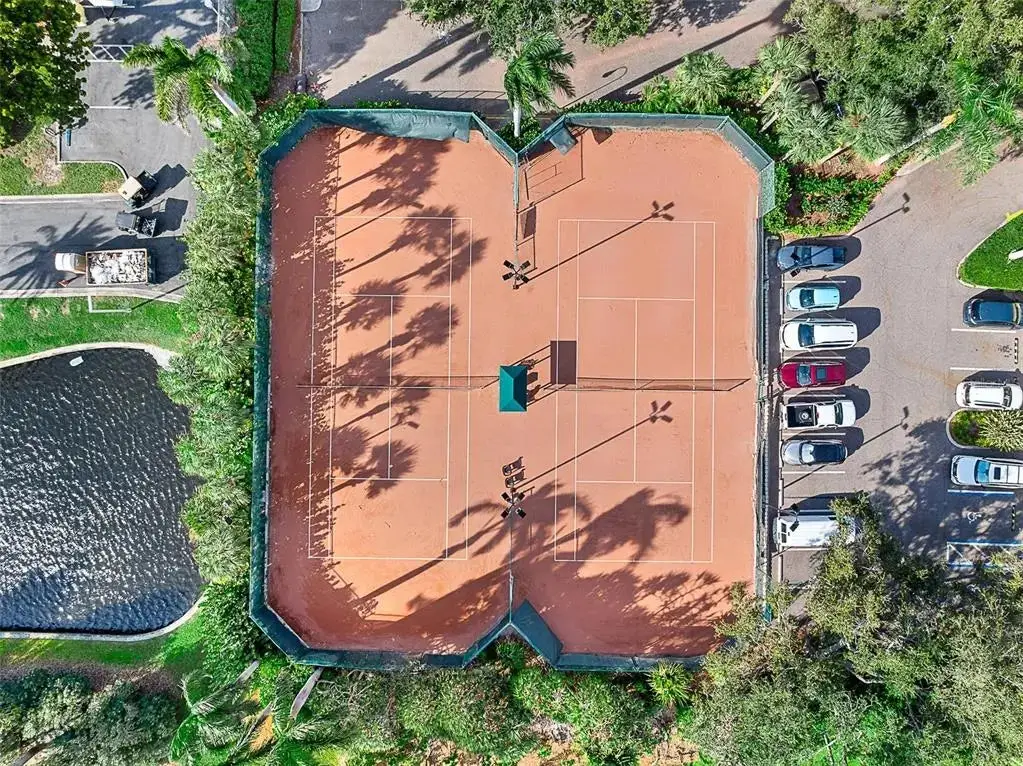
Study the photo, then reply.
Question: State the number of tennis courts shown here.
2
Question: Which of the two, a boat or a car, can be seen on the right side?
car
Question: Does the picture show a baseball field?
No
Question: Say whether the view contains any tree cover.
Yes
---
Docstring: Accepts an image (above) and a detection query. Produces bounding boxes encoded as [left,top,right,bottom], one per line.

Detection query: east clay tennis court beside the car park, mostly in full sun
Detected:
[512,132,759,649]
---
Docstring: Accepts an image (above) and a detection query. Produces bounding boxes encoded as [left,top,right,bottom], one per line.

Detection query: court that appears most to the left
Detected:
[268,128,515,648]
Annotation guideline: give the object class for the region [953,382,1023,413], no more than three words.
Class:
car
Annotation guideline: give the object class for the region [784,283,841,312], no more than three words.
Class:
car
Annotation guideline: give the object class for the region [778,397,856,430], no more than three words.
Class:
vehicle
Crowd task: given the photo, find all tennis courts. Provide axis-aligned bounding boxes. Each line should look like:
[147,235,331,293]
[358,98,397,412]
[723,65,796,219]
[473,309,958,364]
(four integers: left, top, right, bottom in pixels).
[512,132,759,649]
[268,128,515,648]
